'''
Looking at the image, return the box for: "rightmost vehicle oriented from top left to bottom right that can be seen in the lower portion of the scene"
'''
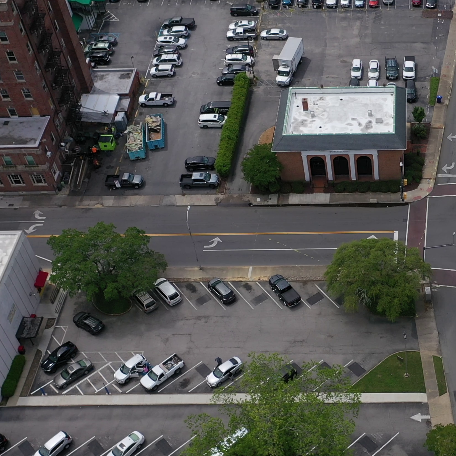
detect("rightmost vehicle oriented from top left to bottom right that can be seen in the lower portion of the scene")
[268,274,303,310]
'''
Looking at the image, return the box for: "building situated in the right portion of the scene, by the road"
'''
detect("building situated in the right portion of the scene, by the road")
[270,79,407,181]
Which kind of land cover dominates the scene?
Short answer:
paved ground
